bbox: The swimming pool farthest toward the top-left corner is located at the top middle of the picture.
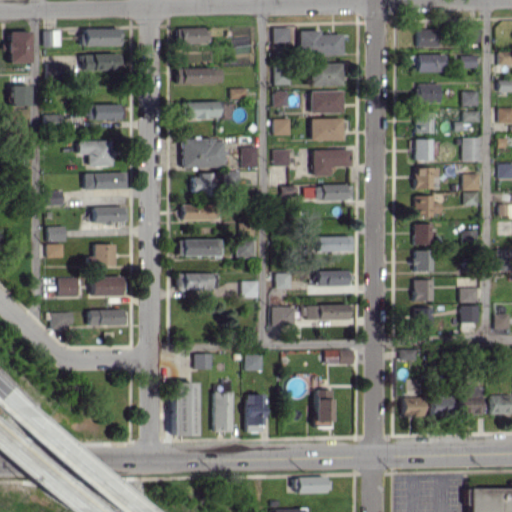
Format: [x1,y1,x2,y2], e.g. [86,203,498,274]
[232,108,248,123]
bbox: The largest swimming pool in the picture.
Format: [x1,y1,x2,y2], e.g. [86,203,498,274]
[285,376,310,400]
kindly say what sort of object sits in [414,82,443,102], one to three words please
house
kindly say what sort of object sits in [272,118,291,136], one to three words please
building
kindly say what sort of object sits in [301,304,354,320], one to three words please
house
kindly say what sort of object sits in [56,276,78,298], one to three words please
building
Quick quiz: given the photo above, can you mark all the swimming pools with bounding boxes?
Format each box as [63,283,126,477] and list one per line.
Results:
[332,206,344,218]
[288,94,301,108]
[232,108,248,123]
[396,368,410,381]
[285,376,310,400]
[444,164,458,177]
